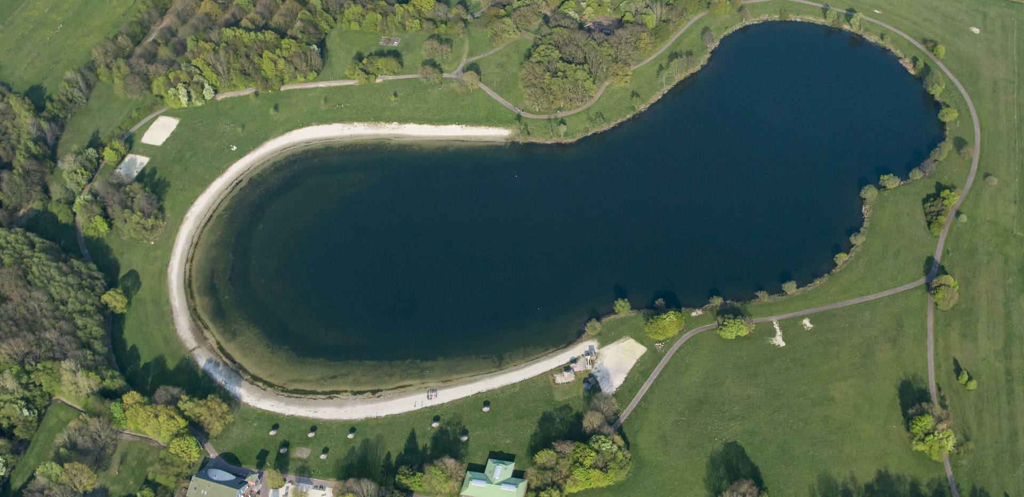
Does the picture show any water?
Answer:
Yes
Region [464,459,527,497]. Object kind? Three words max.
building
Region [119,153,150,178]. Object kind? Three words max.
sports court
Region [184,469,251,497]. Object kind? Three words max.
building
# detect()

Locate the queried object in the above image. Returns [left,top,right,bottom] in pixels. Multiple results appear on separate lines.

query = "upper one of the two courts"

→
[141,115,180,145]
